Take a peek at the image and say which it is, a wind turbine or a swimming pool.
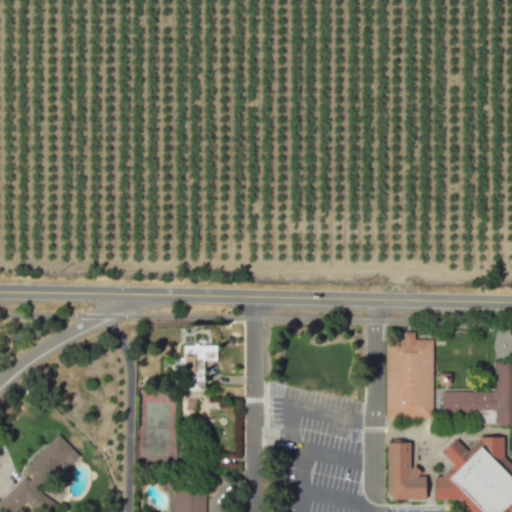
swimming pool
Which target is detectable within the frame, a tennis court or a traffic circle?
tennis court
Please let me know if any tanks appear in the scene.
No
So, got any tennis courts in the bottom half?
Yes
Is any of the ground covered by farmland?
Yes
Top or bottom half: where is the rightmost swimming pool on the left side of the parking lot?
bottom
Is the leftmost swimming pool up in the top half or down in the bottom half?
bottom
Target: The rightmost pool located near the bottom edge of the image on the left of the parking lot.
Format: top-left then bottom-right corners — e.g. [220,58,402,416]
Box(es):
[142,484,169,512]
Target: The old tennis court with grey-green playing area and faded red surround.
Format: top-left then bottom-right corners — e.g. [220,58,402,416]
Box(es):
[139,388,177,462]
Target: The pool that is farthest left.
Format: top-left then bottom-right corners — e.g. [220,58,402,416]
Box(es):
[50,456,98,504]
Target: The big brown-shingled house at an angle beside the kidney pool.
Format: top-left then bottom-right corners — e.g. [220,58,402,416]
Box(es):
[0,436,80,512]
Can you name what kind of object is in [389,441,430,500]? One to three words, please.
building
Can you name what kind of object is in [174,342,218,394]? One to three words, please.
house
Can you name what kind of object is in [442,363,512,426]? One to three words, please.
building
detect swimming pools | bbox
[50,456,98,504]
[142,484,169,512]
